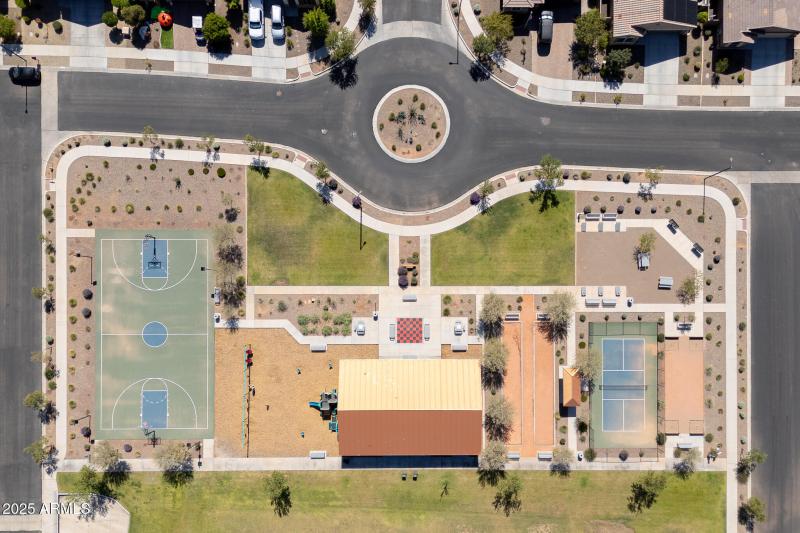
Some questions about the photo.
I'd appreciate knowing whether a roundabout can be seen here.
Yes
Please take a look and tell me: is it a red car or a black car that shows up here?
black car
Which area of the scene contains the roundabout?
top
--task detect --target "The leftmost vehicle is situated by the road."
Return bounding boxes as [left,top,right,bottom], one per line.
[9,65,43,84]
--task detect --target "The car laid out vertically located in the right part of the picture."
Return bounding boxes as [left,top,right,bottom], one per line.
[539,10,556,45]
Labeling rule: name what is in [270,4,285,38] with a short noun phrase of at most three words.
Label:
car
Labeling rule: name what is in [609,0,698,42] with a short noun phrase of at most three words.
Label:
house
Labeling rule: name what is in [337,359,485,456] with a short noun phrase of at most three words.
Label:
building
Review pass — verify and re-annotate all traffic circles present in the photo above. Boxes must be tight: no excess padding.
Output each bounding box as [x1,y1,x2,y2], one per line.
[373,84,450,163]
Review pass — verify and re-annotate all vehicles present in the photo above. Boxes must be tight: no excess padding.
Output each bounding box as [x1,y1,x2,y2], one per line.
[191,16,206,38]
[247,0,265,39]
[270,4,285,38]
[9,65,43,84]
[539,10,556,45]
